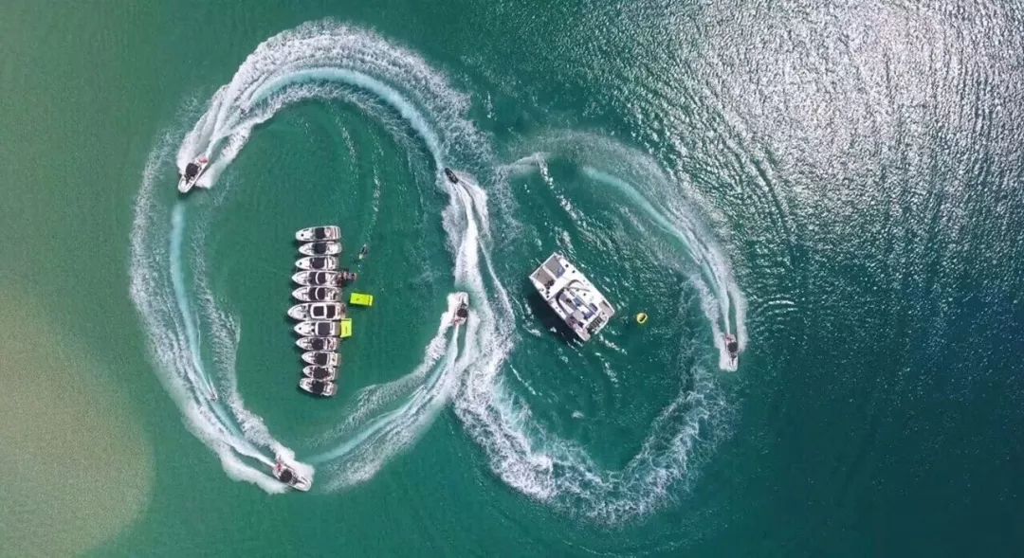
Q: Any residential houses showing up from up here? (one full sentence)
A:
No, no residential house is visible in the scene.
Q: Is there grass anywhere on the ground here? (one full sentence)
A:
No, there's no grass in this view.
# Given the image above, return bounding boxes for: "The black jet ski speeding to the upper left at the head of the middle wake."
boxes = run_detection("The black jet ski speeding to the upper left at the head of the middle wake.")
[444,168,460,185]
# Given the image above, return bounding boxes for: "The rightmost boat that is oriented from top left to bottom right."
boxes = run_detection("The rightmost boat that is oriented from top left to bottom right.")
[530,252,616,340]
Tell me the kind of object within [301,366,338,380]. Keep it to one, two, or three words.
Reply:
boat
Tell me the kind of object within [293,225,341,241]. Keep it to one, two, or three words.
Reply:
boat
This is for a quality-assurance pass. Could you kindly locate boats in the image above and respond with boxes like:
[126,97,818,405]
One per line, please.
[175,153,210,191]
[293,256,339,271]
[290,286,342,302]
[299,352,340,368]
[285,302,346,321]
[444,168,460,185]
[293,225,341,241]
[290,270,339,286]
[272,464,310,493]
[292,321,341,338]
[297,378,338,397]
[296,241,342,256]
[301,366,338,380]
[725,334,743,371]
[530,252,616,340]
[293,337,338,353]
